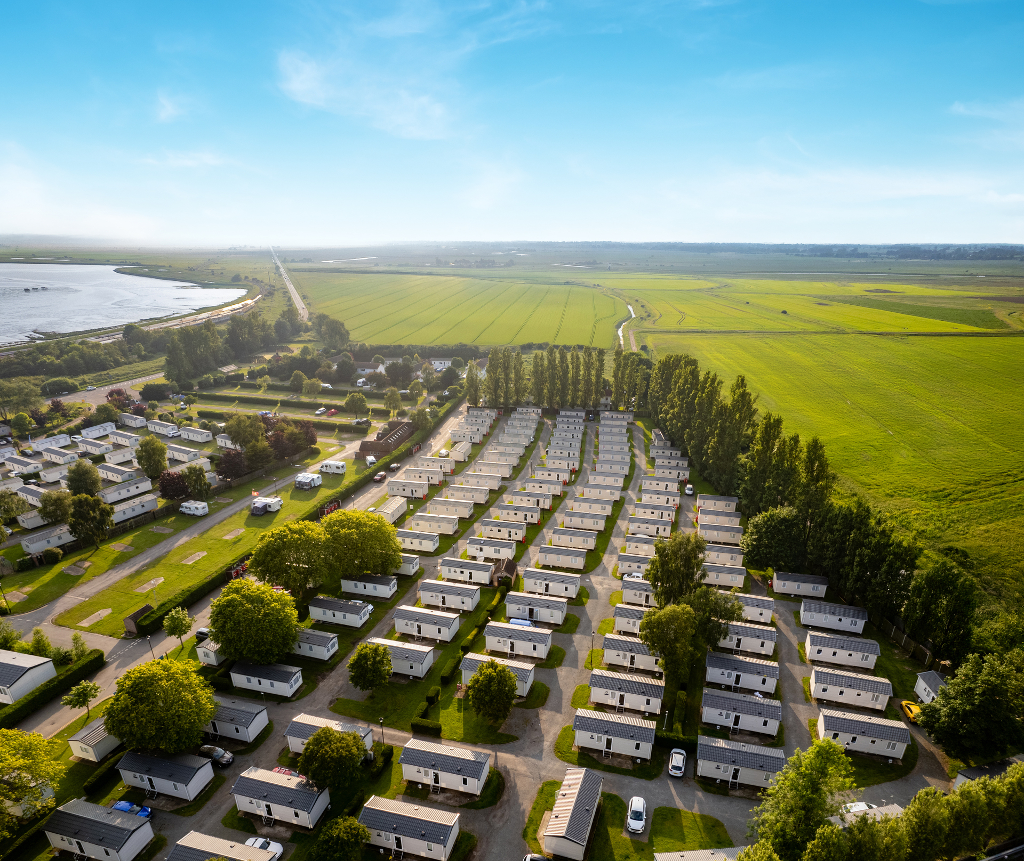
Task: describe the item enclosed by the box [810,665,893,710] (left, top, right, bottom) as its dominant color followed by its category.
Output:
gray camper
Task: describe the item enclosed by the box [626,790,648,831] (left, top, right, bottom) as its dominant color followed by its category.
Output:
white car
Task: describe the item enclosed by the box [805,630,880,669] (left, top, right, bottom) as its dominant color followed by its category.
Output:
gray camper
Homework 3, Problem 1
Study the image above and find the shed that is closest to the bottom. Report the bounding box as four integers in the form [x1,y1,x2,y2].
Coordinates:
[125,603,161,632]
